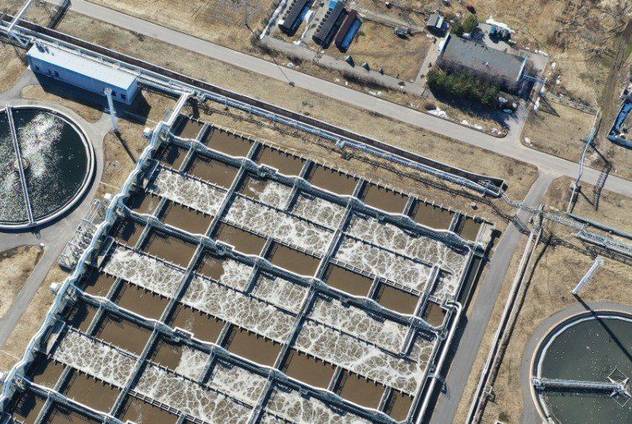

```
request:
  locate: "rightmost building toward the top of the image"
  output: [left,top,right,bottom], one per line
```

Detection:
[437,36,550,93]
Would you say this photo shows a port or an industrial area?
industrial area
